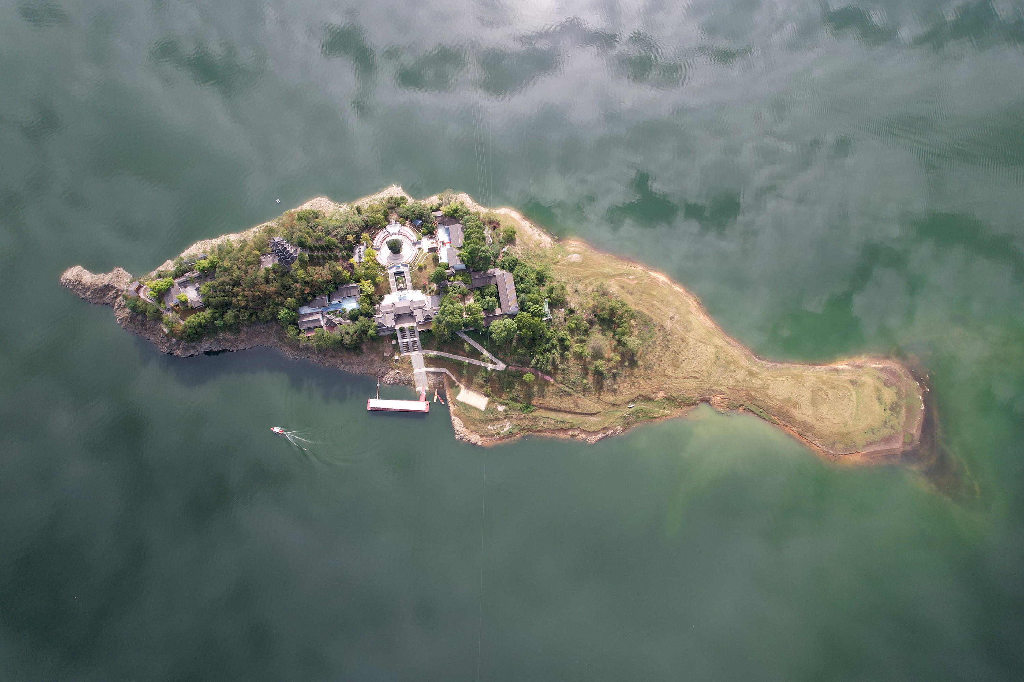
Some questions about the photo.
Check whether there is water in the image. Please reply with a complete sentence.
Yes, there is water in the image.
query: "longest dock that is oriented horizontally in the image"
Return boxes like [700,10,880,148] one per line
[367,399,429,412]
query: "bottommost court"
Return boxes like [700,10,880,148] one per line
[456,388,489,411]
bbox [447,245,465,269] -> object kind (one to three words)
building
